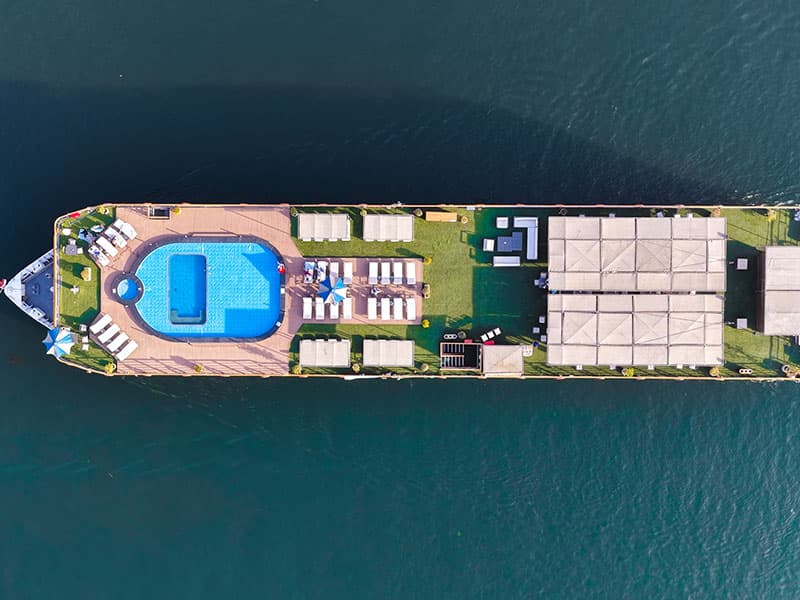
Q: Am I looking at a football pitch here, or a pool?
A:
pool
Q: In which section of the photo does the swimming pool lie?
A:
left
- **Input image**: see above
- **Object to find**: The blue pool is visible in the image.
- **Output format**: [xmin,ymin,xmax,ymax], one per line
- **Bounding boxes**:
[112,236,287,343]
